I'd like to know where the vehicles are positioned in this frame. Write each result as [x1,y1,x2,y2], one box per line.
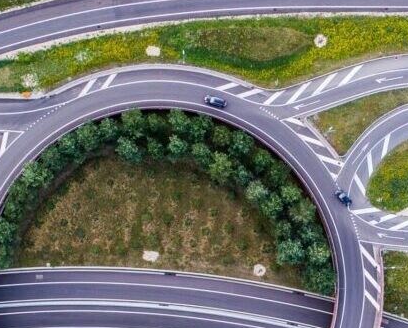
[204,94,227,108]
[332,188,354,207]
